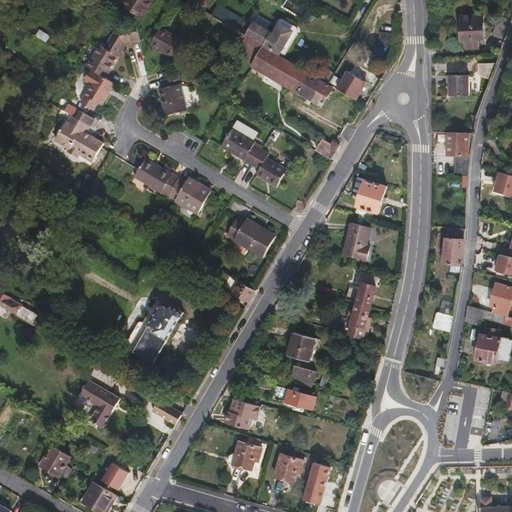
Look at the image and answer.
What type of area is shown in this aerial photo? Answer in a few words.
residential area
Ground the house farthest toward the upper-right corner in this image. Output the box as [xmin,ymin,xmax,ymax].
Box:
[458,18,487,52]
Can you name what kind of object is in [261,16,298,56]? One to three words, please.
building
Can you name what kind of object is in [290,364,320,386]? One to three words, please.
building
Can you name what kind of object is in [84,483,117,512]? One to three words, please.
house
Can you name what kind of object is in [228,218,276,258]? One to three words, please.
house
